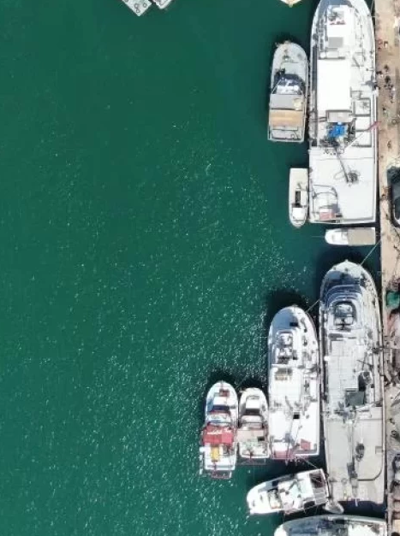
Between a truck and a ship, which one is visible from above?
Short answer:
ship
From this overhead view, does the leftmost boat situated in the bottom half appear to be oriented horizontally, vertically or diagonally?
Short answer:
vertically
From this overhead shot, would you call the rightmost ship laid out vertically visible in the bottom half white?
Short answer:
Yes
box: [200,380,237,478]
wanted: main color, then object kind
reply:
white boat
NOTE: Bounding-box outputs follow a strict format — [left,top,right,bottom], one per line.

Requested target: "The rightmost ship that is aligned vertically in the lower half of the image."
[317,262,388,504]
